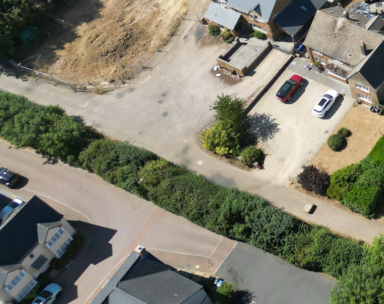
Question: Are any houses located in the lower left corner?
Yes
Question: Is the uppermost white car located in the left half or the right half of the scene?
right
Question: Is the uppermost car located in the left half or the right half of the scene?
right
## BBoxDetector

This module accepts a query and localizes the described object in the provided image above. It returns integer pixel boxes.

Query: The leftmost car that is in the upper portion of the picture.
[277,76,304,103]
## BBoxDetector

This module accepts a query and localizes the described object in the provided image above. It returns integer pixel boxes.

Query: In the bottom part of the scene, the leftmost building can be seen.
[0,194,78,304]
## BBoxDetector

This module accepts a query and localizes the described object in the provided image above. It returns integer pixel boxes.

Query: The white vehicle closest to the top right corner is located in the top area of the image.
[311,91,339,119]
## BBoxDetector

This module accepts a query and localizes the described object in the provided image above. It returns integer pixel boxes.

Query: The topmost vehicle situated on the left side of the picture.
[0,170,24,190]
